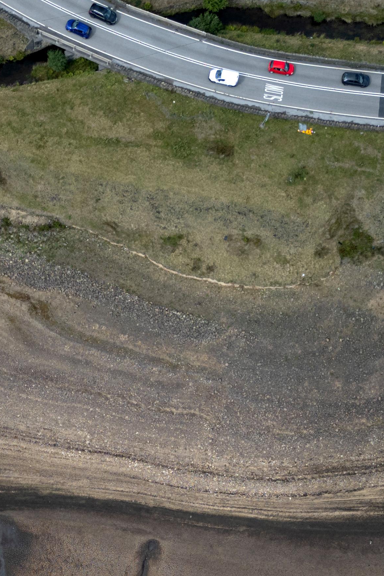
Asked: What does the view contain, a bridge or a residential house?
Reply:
bridge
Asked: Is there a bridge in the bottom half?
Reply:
No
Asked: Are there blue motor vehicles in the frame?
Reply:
Yes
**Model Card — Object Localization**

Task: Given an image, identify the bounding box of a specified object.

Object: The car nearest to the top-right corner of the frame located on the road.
[342,71,371,88]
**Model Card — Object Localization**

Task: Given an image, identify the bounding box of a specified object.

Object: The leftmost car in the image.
[67,21,93,39]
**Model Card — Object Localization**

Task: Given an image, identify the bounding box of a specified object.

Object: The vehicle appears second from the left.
[88,3,118,25]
